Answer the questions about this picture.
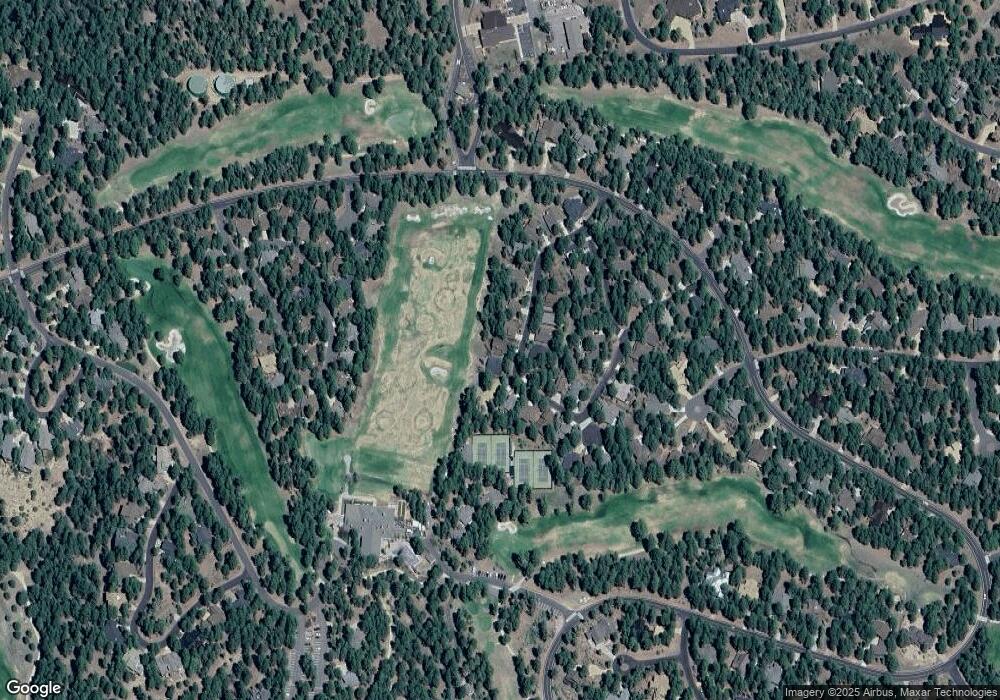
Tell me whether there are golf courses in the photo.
Yes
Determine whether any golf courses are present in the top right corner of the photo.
Yes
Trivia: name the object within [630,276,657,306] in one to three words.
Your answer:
house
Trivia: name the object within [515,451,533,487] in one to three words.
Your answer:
tennis court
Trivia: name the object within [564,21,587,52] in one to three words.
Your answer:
building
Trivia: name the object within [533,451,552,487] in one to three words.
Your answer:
tennis court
